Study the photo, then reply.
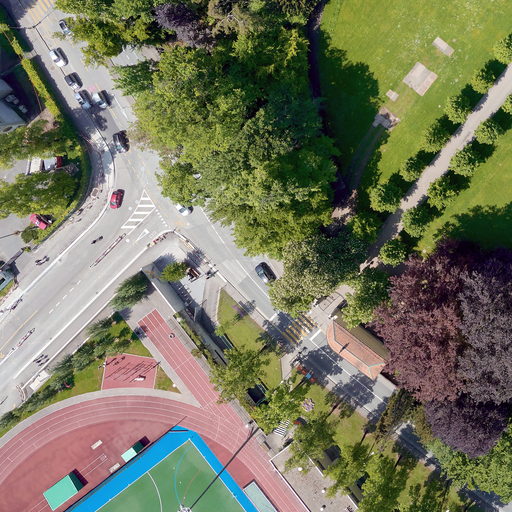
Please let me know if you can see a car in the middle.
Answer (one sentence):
Yes, a car shows up in the middle.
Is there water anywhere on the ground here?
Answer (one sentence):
No, the scene doesn't show any water.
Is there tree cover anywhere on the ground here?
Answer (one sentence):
Yes, the picture does contain tree cover.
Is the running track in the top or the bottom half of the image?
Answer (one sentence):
The bottom half of the photo is where the running track is.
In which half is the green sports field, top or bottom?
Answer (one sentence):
The bottom half of the photo is where the green sports field is.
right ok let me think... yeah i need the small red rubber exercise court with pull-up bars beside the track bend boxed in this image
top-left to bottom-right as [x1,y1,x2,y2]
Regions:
[102,353,156,390]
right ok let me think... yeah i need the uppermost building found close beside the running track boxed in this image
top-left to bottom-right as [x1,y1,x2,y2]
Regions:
[142,260,193,316]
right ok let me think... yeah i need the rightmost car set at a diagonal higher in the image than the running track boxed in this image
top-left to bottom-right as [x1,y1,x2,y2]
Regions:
[254,260,272,282]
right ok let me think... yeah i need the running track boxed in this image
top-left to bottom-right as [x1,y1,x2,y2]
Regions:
[0,310,304,512]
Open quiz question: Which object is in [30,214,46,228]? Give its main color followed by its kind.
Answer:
red car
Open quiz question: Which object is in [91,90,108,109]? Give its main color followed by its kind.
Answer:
white car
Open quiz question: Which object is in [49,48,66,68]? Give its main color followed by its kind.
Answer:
white car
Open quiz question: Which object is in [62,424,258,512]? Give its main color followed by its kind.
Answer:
green sports field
